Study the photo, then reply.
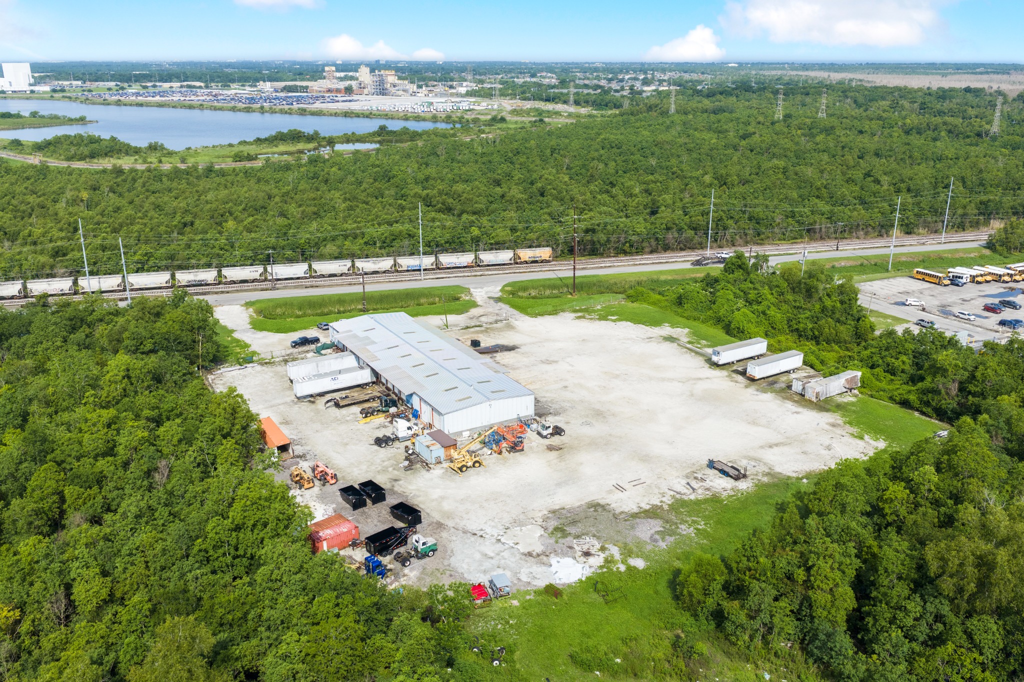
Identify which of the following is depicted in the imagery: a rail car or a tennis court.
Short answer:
rail car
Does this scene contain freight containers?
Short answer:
Yes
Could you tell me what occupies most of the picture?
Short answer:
trees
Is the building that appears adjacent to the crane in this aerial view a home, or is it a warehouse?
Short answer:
warehouse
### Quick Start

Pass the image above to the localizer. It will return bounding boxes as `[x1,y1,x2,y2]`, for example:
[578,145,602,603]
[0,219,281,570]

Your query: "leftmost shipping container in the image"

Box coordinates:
[261,417,298,463]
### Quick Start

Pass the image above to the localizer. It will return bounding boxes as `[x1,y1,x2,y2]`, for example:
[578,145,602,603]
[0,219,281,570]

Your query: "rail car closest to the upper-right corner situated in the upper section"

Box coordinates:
[515,247,553,263]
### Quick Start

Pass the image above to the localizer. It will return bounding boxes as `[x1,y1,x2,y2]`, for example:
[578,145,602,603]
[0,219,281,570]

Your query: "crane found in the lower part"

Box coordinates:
[446,424,497,477]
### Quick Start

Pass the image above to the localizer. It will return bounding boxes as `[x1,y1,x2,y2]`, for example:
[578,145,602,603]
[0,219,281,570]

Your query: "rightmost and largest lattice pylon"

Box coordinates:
[988,93,1005,131]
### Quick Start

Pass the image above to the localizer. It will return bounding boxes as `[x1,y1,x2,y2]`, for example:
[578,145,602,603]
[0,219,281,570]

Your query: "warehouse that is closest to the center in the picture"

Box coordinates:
[329,312,537,437]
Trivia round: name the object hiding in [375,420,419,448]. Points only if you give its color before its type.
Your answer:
white truck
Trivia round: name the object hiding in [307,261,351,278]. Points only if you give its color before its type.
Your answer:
white rail car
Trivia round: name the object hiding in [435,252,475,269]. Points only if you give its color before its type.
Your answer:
white rail car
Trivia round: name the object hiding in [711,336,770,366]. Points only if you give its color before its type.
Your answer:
white trailer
